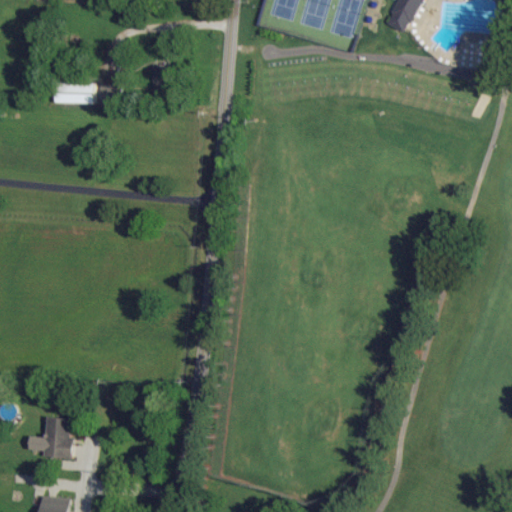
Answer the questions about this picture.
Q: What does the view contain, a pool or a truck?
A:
pool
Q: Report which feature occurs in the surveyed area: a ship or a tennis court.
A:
tennis court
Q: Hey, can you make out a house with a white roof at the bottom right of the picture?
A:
No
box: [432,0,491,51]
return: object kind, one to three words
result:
swimming pool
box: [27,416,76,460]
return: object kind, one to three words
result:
house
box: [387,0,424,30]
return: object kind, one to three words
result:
building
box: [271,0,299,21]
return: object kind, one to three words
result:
tennis court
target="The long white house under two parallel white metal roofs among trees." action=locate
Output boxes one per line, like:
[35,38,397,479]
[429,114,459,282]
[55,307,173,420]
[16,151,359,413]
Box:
[54,82,98,104]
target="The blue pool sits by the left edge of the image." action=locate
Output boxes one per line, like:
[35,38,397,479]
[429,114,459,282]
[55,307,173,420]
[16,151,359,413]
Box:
[0,404,19,420]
